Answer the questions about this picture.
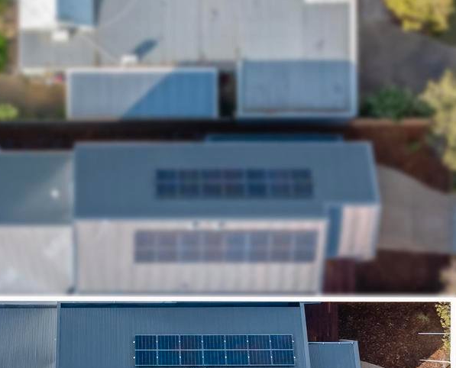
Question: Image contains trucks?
No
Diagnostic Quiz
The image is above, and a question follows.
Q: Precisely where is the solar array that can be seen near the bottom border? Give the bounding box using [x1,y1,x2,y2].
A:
[133,335,295,364]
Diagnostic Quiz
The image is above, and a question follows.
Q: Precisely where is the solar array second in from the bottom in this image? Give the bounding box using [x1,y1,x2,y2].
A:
[131,234,316,266]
